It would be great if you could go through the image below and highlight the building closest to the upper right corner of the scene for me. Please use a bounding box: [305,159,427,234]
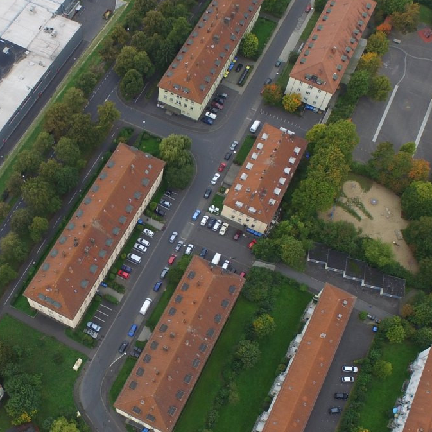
[286,0,377,110]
